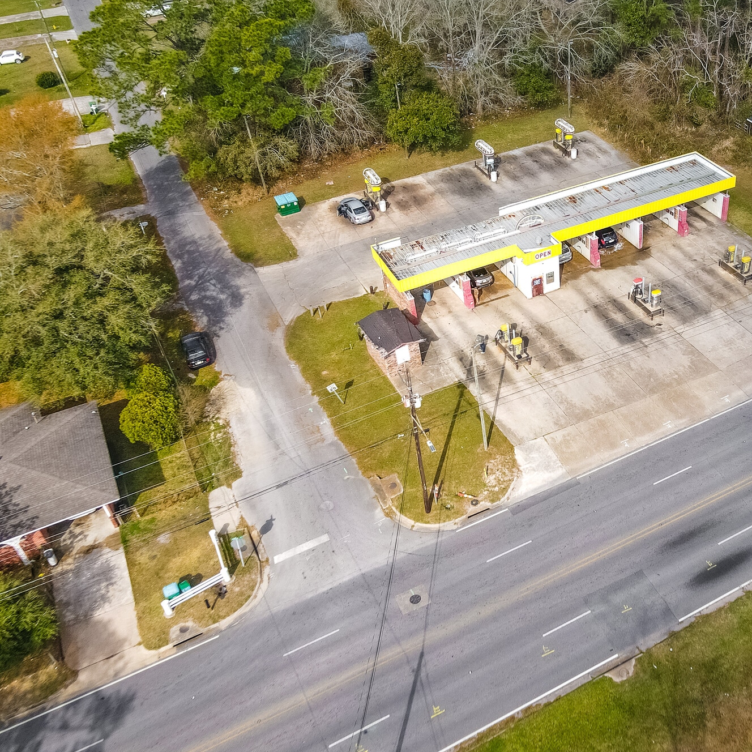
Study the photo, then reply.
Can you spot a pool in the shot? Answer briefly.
No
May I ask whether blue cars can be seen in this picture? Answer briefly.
No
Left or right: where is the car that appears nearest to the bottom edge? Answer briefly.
left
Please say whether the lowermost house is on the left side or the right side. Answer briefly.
left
